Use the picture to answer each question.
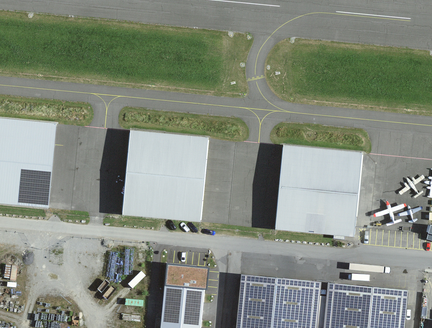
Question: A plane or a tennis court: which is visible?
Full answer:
It is a plane that can be seen here.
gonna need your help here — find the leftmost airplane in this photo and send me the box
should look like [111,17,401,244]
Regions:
[374,201,408,225]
